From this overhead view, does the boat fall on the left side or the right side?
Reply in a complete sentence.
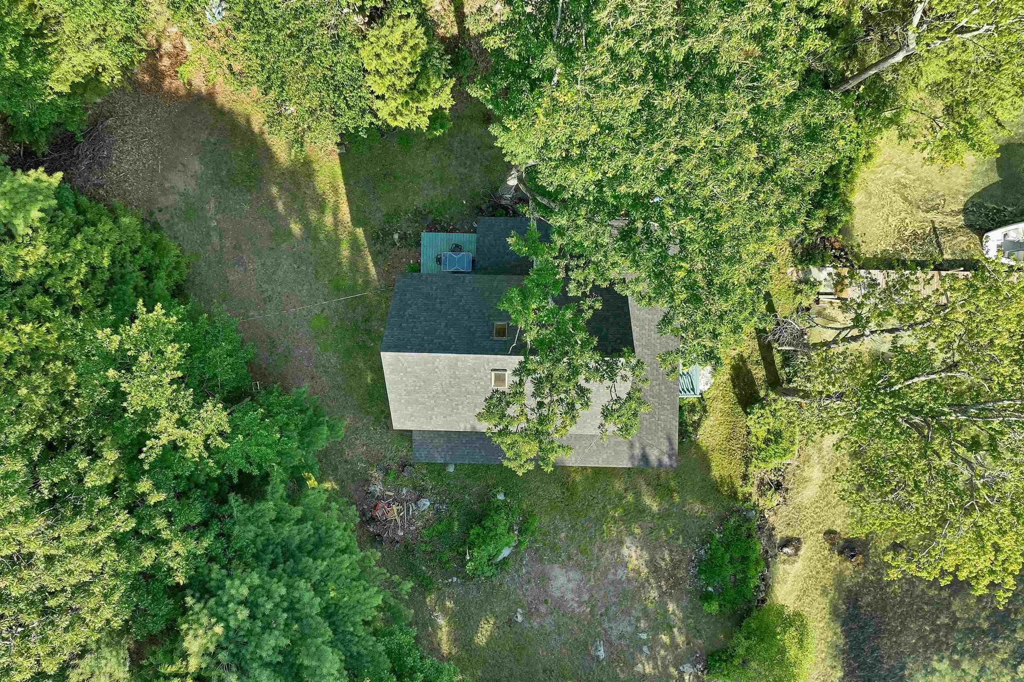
You can find the boat on the right side of the picture.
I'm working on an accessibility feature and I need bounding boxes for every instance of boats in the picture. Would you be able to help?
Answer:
[988,218,1024,262]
